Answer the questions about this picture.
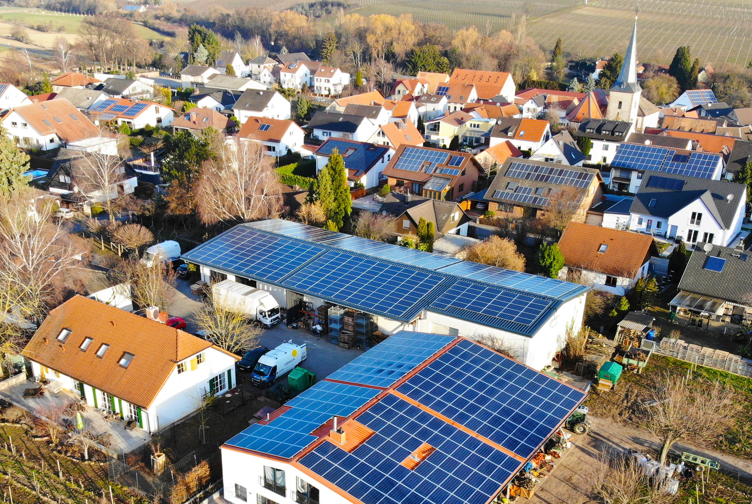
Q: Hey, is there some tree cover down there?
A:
Yes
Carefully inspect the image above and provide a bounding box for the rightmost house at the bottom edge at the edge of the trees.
[221,326,590,504]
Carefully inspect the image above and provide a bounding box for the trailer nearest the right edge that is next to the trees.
[669,443,749,482]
